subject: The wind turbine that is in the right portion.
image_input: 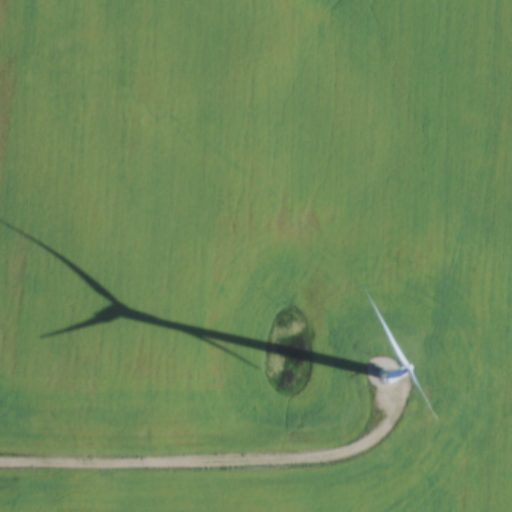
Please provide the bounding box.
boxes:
[370,296,438,420]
